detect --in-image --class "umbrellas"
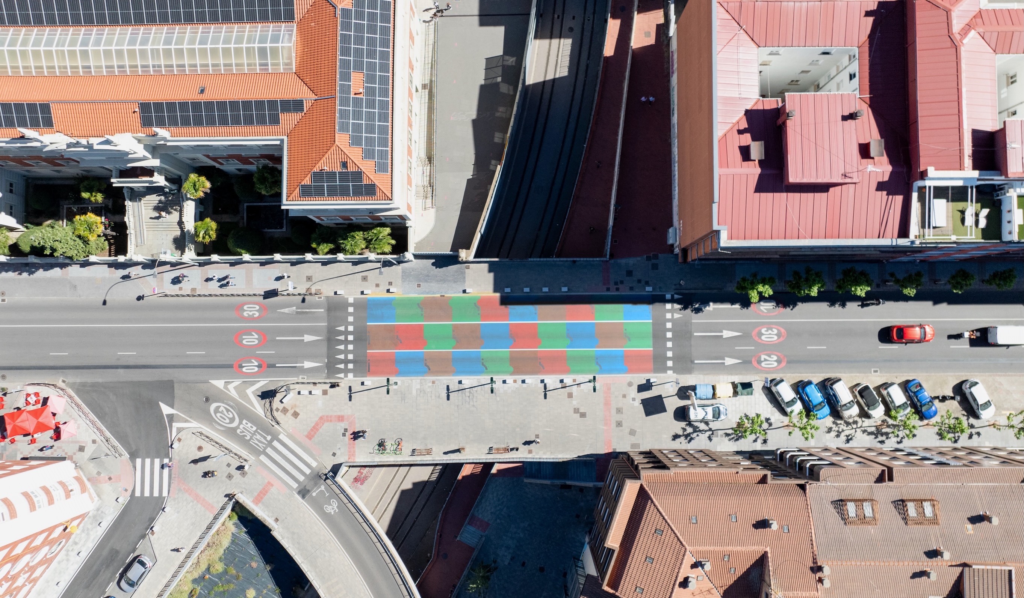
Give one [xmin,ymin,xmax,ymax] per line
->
[59,420,83,440]
[4,409,31,438]
[48,395,72,414]
[26,405,58,435]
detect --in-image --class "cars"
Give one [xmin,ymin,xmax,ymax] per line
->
[825,374,861,421]
[118,549,157,596]
[851,379,886,422]
[770,375,806,420]
[903,376,937,421]
[960,376,995,422]
[887,322,934,345]
[795,377,831,421]
[682,402,729,425]
[878,379,913,422]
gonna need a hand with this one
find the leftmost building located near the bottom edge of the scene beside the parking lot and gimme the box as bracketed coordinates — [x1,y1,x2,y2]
[585,449,819,598]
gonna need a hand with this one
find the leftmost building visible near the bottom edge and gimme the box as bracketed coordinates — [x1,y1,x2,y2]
[0,461,93,598]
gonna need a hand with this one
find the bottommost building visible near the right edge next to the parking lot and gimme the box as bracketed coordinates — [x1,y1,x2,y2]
[775,443,1024,598]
